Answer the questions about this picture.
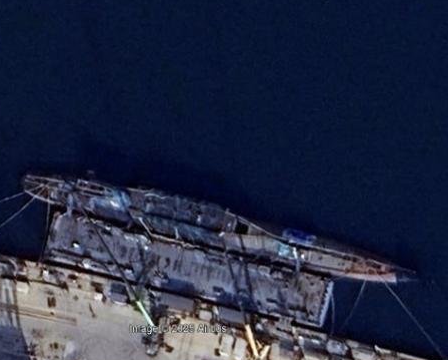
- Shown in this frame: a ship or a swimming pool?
ship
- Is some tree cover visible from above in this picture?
No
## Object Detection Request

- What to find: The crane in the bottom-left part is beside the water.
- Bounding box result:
[79,206,163,355]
